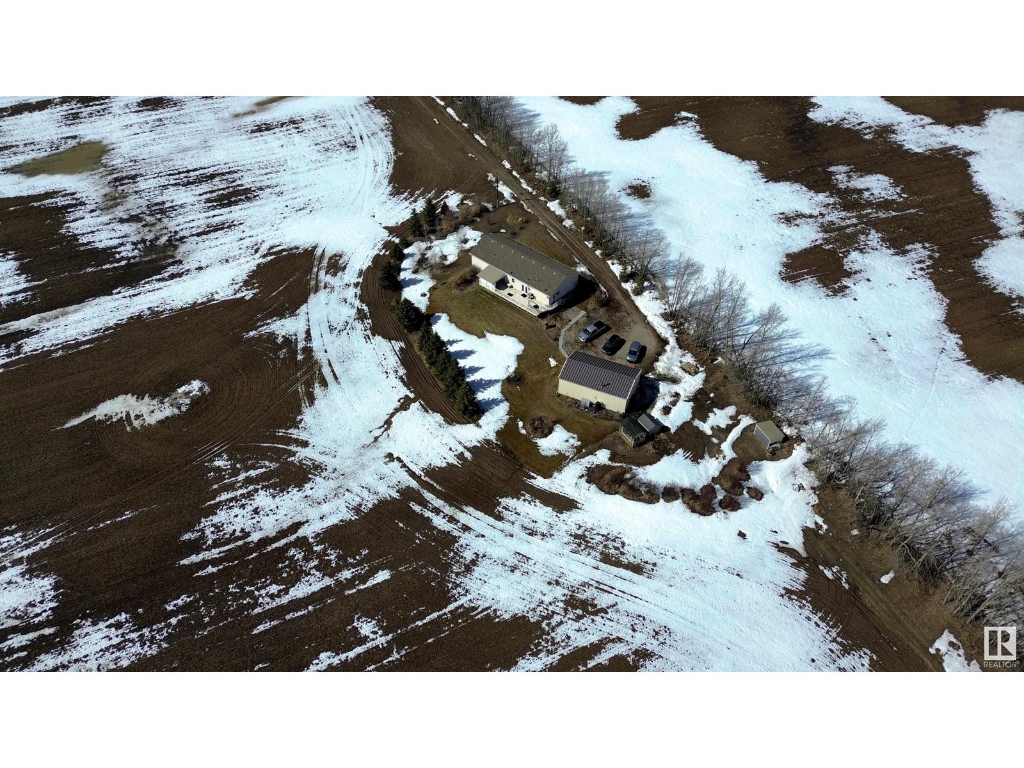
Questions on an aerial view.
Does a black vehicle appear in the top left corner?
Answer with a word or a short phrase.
No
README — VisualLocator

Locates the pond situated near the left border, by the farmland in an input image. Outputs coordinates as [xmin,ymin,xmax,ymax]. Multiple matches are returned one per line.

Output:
[12,136,111,180]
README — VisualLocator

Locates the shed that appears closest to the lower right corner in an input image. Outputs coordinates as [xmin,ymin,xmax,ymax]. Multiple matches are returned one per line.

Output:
[751,420,786,453]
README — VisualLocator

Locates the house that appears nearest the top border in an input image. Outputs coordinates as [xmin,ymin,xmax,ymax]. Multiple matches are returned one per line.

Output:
[468,234,581,319]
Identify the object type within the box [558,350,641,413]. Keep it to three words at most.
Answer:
building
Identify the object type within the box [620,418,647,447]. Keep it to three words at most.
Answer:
greenhouse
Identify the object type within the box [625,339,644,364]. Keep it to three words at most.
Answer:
car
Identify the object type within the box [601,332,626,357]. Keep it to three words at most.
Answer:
car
